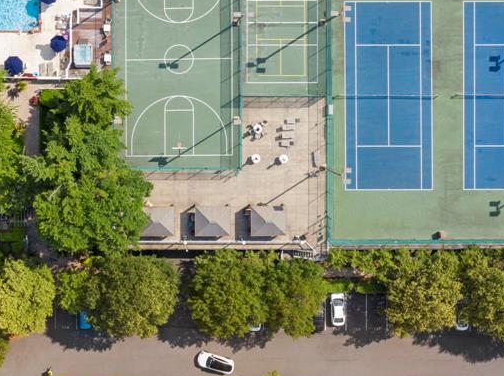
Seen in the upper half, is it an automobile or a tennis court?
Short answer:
tennis court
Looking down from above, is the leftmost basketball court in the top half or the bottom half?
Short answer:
top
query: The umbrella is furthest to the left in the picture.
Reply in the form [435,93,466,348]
[4,56,23,75]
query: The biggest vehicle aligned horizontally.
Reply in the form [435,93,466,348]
[197,350,235,373]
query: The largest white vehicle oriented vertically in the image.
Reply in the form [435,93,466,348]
[329,292,347,330]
